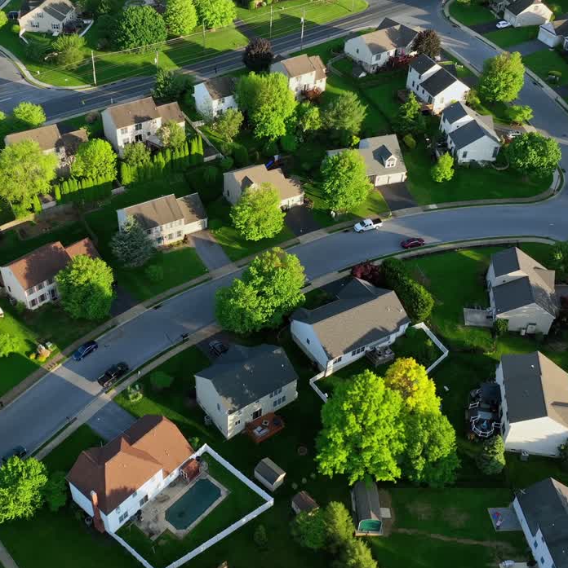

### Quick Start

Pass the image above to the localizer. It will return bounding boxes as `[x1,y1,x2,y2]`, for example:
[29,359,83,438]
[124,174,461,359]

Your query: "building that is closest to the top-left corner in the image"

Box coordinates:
[18,0,74,34]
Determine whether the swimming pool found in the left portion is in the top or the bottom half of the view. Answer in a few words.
bottom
